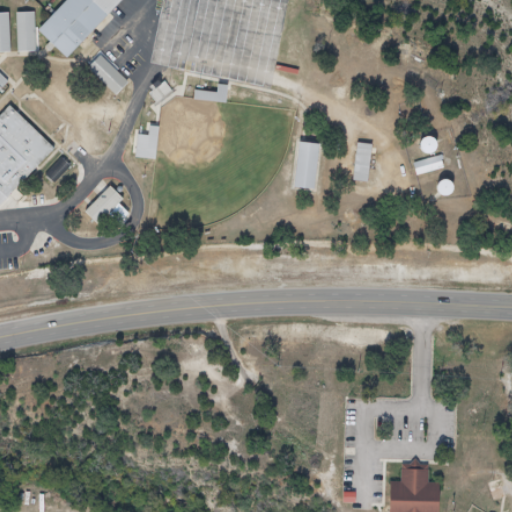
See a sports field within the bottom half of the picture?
No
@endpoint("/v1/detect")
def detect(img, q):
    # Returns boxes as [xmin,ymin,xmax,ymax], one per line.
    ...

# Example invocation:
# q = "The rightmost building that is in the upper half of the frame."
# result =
[414,154,446,175]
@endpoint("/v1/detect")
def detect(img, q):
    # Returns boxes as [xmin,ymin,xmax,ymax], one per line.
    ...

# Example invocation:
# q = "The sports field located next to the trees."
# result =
[150,98,296,229]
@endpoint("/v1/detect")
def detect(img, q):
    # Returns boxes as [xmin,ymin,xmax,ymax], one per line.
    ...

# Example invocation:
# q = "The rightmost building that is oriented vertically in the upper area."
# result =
[354,142,372,181]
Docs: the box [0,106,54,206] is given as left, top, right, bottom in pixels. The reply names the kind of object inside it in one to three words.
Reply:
building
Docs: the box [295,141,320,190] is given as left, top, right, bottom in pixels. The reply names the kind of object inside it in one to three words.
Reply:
barn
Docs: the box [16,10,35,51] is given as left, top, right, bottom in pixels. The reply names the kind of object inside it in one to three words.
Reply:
building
